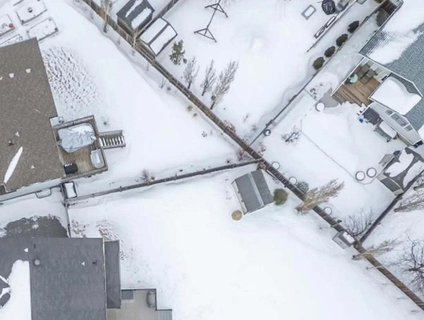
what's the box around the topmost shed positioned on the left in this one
[116,0,155,36]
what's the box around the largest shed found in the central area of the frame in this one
[232,169,274,216]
